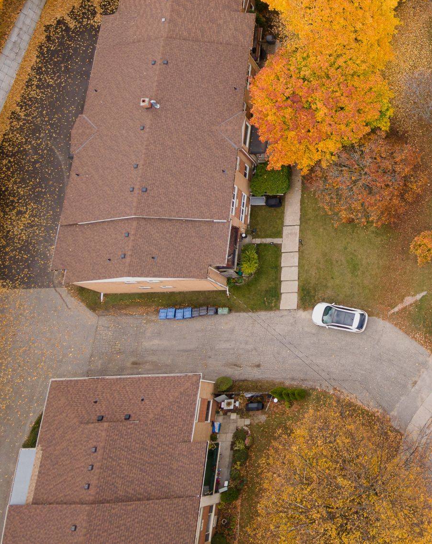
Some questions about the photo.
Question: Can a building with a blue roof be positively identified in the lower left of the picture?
No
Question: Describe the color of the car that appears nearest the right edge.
white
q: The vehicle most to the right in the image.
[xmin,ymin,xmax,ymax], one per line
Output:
[311,300,369,333]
